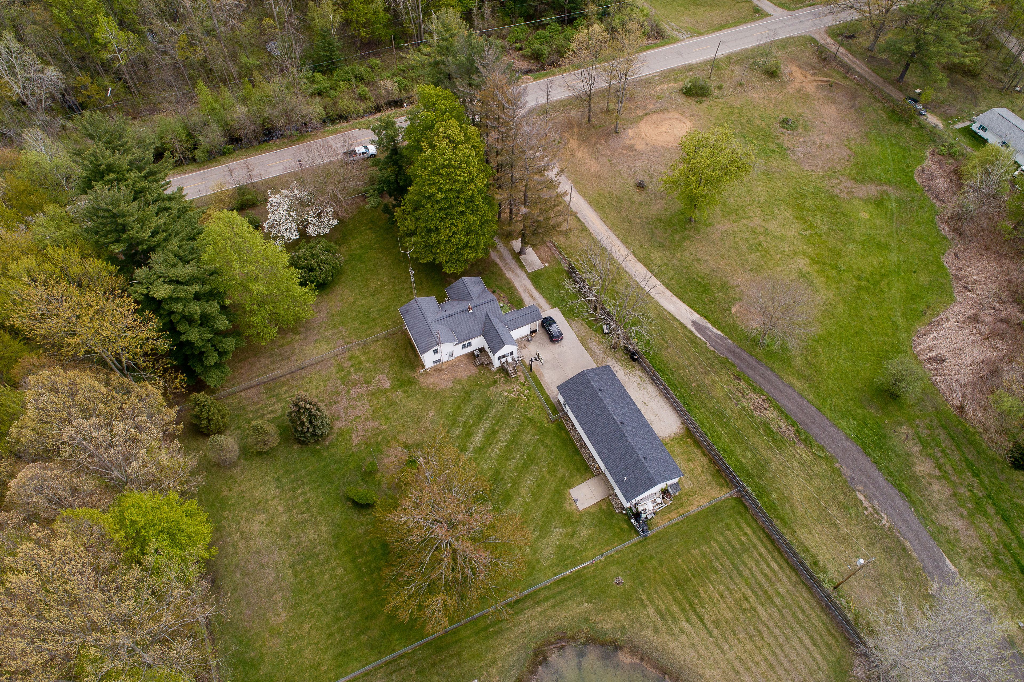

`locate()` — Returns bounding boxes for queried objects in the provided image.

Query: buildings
[970,112,1024,172]
[399,277,543,372]
[556,365,685,508]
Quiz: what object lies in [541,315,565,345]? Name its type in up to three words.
car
